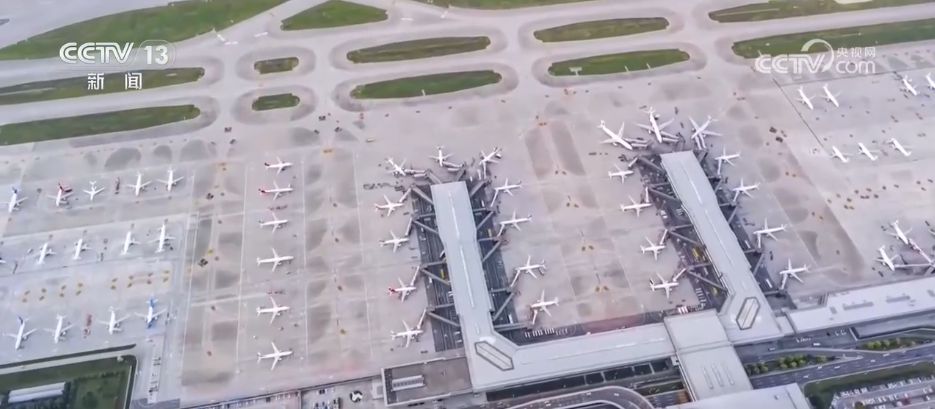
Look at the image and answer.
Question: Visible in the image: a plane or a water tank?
plane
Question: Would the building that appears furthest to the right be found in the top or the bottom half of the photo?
bottom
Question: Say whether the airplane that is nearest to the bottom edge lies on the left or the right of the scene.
left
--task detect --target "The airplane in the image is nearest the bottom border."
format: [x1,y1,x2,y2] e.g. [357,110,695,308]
[258,339,292,369]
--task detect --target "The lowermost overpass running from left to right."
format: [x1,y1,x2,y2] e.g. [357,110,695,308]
[502,387,655,409]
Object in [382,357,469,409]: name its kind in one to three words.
building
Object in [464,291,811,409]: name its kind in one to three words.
building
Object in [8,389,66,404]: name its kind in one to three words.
shed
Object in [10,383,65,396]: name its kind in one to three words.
shed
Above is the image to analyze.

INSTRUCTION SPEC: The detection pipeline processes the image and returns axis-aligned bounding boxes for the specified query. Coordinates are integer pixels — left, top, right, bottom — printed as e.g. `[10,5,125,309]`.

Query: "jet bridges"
[405,213,439,236]
[416,302,461,330]
[720,190,739,223]
[894,238,935,278]
[473,189,498,230]
[646,182,678,203]
[674,263,725,289]
[496,309,537,331]
[695,133,707,163]
[400,184,434,204]
[708,159,722,193]
[743,233,762,272]
[405,169,442,184]
[659,225,699,246]
[629,154,666,173]
[410,260,451,286]
[625,138,665,154]
[443,161,467,182]
[470,162,489,197]
[478,223,505,261]
[660,131,682,152]
[763,273,787,297]
[489,271,520,320]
